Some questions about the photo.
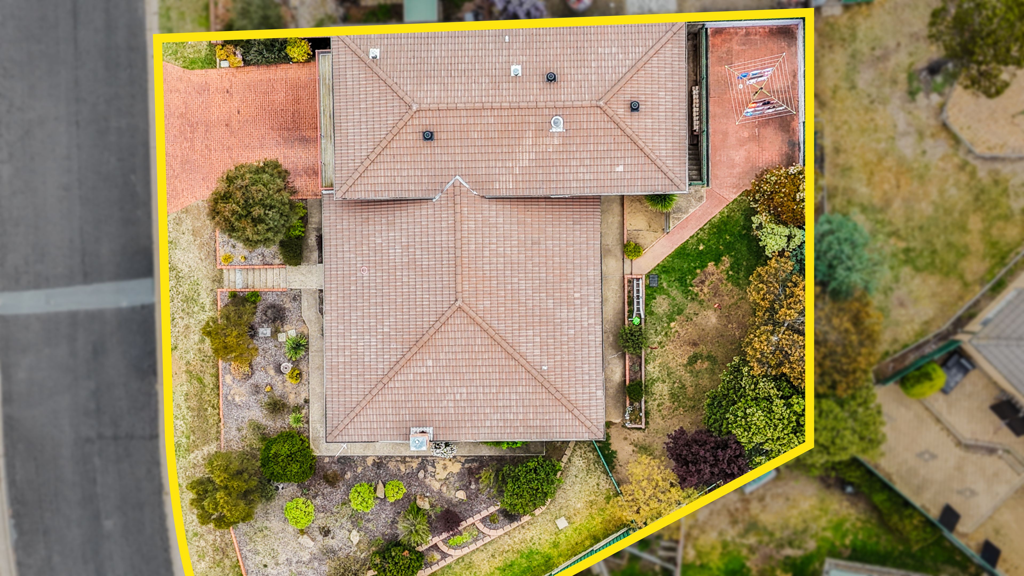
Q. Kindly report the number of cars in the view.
zero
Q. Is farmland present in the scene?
No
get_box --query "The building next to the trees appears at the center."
[315,17,691,455]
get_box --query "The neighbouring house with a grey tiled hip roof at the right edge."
[949,257,1024,415]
